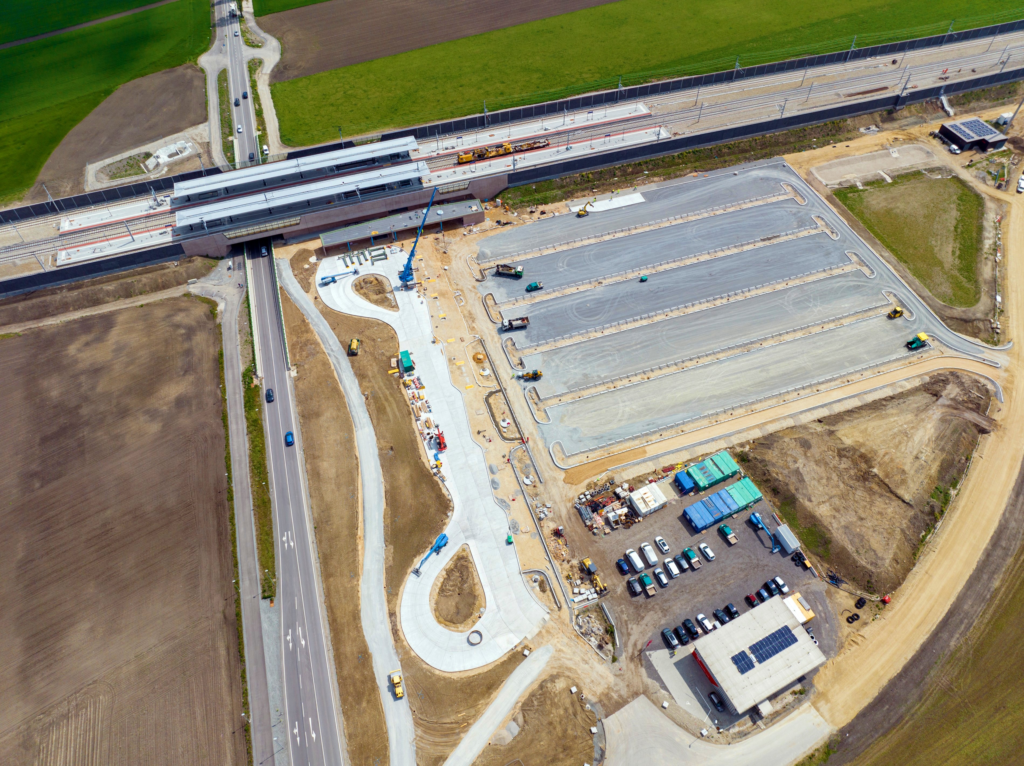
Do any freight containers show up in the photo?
Yes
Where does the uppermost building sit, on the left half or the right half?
right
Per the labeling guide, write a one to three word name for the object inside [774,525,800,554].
shipping container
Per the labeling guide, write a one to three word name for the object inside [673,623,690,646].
car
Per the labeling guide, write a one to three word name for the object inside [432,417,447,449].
work vehicle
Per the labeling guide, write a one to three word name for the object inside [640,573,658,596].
vehicle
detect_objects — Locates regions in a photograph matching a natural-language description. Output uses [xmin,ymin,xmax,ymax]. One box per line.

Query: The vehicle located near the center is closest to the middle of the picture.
[520,369,540,381]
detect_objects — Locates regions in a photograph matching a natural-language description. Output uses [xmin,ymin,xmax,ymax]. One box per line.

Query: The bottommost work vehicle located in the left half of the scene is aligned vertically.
[388,665,406,700]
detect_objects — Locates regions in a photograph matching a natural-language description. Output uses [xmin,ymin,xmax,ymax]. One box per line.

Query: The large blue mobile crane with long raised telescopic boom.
[395,186,443,292]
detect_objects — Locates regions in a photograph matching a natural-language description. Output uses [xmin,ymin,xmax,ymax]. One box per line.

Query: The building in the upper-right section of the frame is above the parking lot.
[939,117,1008,150]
